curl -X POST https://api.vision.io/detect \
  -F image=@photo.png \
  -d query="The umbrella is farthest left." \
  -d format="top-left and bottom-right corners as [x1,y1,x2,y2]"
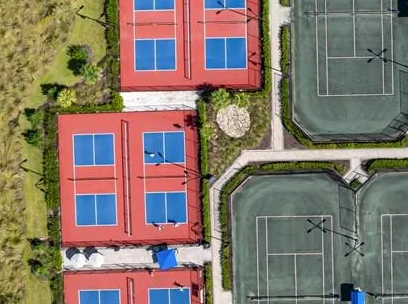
[71,251,88,268]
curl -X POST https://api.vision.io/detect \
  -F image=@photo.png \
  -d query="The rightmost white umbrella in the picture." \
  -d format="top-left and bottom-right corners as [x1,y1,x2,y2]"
[88,251,105,267]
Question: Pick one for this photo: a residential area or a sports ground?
sports ground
